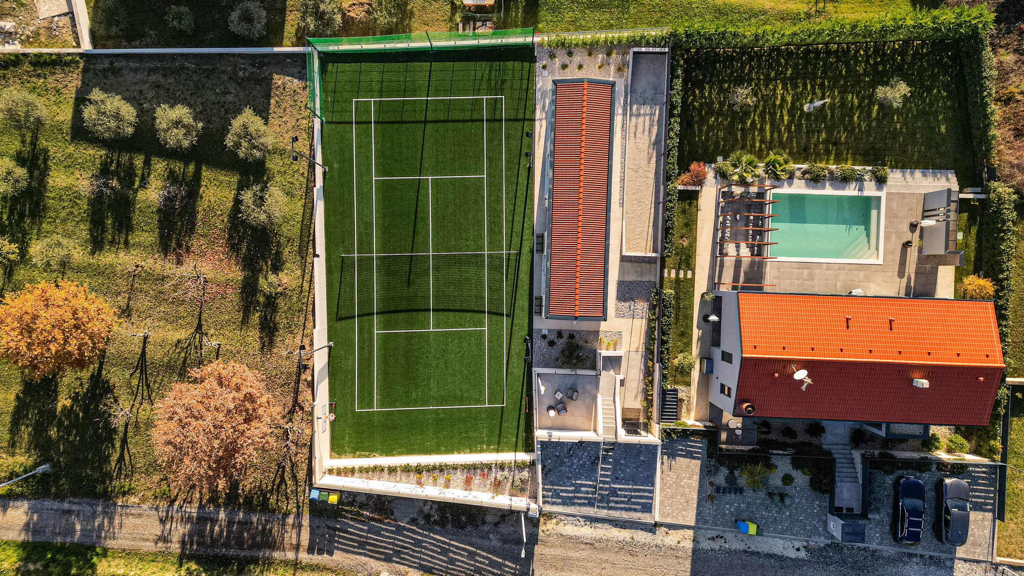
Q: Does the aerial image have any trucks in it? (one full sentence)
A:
No, I find no truck anywhere in the image.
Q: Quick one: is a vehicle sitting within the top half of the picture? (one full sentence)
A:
No, no vehicle can be made out within the top half of the picture.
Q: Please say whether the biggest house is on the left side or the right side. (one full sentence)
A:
The biggest house appears in the right half of the scene.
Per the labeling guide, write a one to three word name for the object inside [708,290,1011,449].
house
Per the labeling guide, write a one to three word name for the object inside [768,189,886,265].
swimming pool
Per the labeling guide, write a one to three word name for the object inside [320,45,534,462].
tennis court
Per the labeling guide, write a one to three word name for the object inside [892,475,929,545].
car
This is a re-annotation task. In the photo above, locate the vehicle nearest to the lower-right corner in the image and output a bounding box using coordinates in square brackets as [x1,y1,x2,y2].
[937,477,975,545]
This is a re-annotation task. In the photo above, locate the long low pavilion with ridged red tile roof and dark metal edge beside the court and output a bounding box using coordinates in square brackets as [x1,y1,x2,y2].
[545,78,615,326]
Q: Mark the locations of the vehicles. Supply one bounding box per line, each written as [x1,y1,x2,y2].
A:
[937,477,975,545]
[892,475,929,545]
